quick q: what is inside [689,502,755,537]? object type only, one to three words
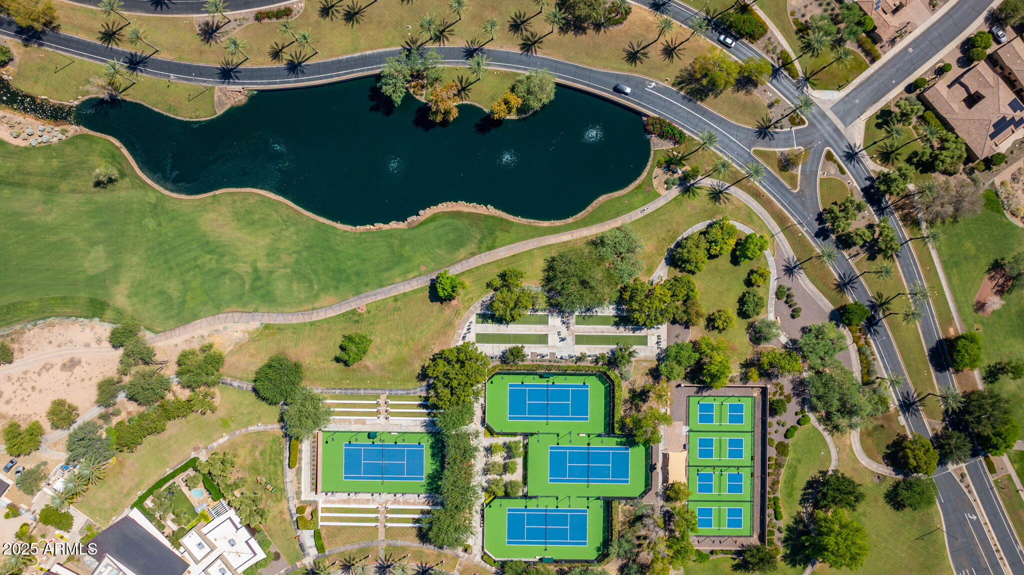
sports court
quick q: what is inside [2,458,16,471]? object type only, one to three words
vehicle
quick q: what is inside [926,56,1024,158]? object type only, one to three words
house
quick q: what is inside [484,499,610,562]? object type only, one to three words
tennis court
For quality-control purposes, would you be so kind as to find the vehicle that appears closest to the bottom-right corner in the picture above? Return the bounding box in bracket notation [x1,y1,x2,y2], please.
[867,311,880,327]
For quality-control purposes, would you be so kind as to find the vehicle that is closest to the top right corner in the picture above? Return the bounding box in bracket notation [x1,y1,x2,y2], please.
[992,23,1009,43]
